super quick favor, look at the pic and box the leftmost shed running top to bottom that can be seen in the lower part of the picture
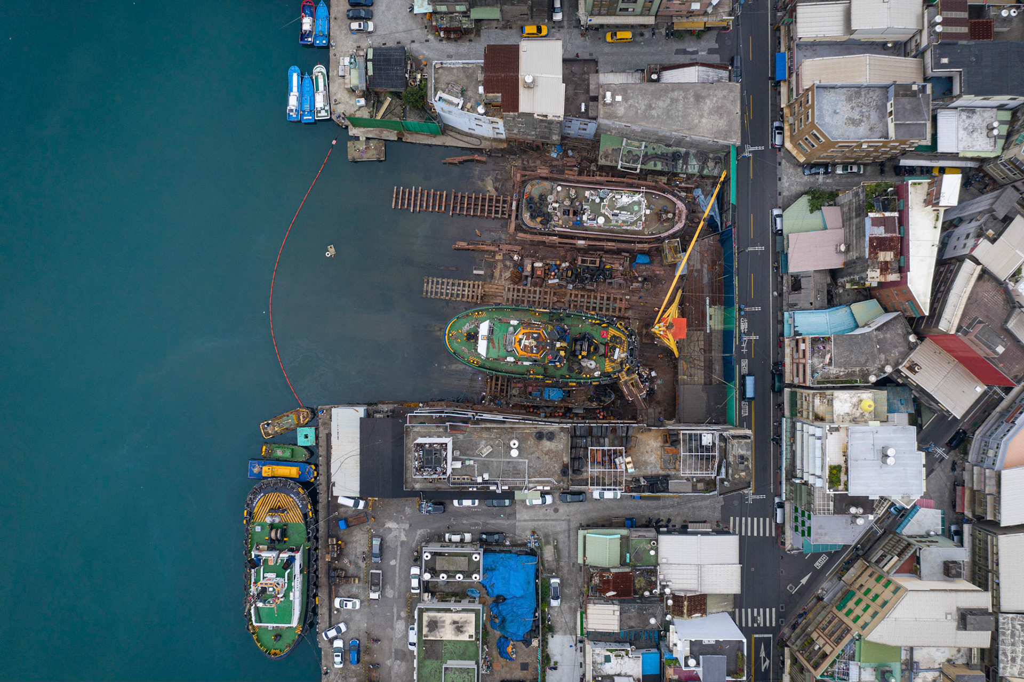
[330,405,368,498]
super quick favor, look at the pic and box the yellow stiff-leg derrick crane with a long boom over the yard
[649,167,729,360]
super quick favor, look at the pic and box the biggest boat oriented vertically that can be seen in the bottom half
[242,475,319,662]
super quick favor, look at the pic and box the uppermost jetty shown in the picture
[348,137,386,162]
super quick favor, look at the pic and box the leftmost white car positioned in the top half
[347,19,374,33]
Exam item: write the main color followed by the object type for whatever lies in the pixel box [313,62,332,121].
white boat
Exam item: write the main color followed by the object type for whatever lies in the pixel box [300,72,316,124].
blue boat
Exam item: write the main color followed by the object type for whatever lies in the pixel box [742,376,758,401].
blue vehicle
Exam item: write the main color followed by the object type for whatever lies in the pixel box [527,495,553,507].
white vehicle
